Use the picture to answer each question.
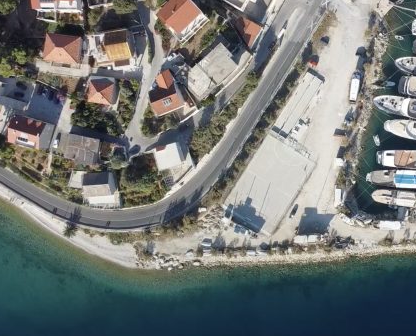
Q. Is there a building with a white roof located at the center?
Yes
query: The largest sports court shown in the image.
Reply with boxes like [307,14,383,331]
[223,134,316,235]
